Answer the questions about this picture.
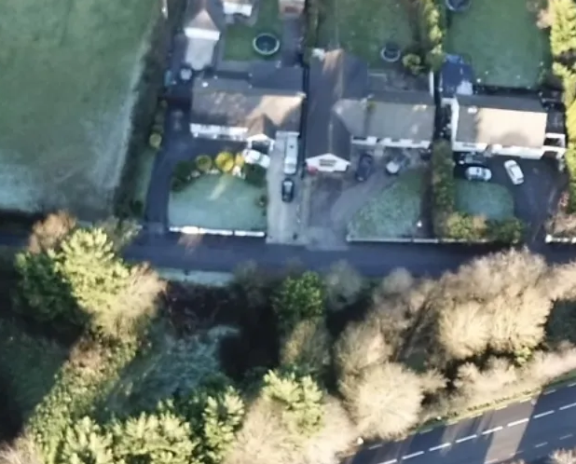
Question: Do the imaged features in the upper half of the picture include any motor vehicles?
Yes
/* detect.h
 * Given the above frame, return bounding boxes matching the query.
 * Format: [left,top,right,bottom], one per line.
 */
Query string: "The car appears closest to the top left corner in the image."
[243,149,269,167]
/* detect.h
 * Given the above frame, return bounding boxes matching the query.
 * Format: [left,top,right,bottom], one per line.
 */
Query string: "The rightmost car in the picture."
[506,160,524,183]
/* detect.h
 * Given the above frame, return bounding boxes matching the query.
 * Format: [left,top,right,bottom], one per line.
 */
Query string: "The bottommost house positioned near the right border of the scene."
[449,92,566,159]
